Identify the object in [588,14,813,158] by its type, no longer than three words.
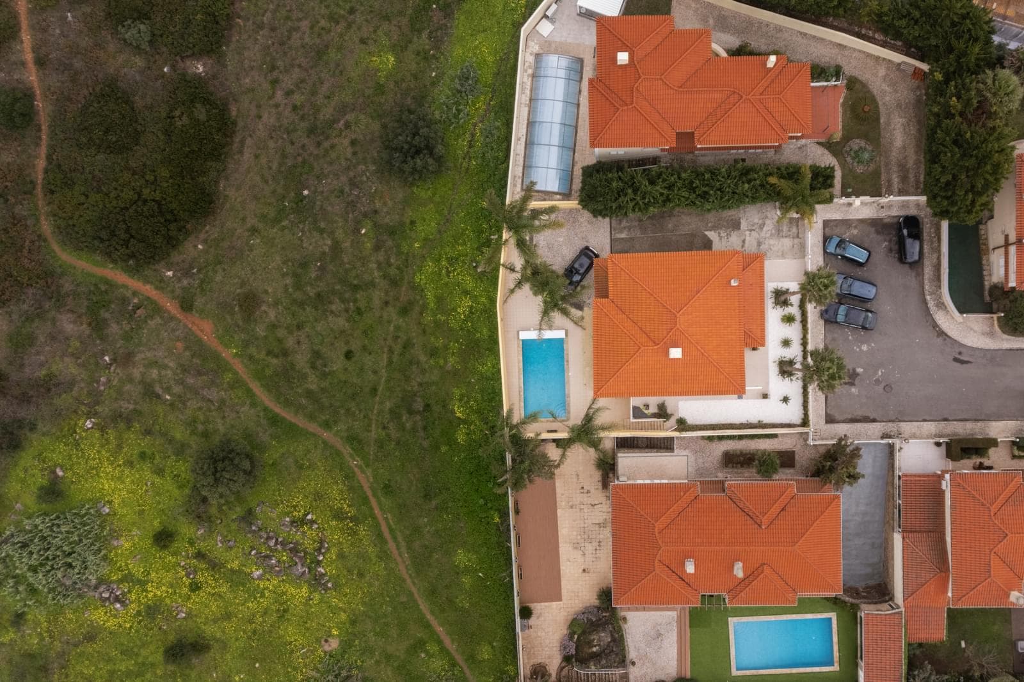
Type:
house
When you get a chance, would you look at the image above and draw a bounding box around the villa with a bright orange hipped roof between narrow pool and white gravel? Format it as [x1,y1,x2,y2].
[590,250,767,399]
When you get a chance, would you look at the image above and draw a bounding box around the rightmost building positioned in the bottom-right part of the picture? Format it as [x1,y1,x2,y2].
[896,469,1024,643]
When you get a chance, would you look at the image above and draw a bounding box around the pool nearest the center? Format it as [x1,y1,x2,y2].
[517,327,570,423]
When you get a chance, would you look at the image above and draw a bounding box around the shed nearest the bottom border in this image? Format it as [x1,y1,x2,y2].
[856,612,901,682]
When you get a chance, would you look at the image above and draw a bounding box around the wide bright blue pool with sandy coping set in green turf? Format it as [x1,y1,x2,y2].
[728,613,839,676]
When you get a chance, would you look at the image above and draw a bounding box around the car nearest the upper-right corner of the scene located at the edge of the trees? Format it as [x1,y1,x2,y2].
[894,216,924,265]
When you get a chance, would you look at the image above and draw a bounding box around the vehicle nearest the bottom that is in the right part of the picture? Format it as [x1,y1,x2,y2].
[820,304,878,329]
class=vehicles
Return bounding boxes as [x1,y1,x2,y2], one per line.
[823,236,872,265]
[563,243,603,295]
[894,216,924,265]
[820,304,878,329]
[829,272,882,302]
